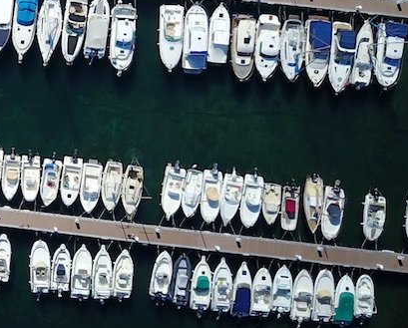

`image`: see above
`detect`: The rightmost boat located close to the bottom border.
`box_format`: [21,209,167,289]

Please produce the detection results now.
[354,267,377,321]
